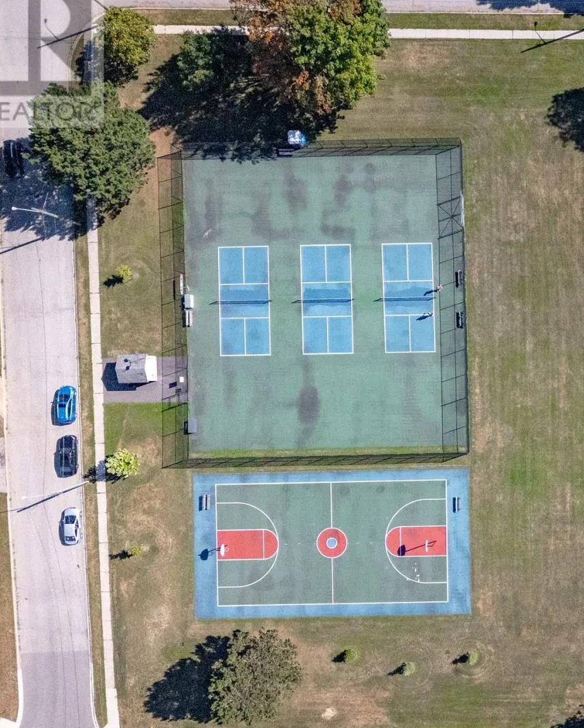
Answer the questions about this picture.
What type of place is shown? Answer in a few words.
sports ground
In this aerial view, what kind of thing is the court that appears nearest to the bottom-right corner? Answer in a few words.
basketball court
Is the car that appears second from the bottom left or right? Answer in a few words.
left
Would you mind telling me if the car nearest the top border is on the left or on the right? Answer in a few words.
left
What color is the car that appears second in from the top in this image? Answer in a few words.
blue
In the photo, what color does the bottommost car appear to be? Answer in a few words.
white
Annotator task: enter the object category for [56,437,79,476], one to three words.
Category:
car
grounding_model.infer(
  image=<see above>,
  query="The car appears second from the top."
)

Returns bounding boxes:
[55,386,77,425]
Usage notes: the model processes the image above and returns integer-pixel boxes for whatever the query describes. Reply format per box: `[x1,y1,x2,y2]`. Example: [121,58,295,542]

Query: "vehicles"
[56,437,79,476]
[0,136,22,177]
[61,507,82,546]
[55,386,77,425]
